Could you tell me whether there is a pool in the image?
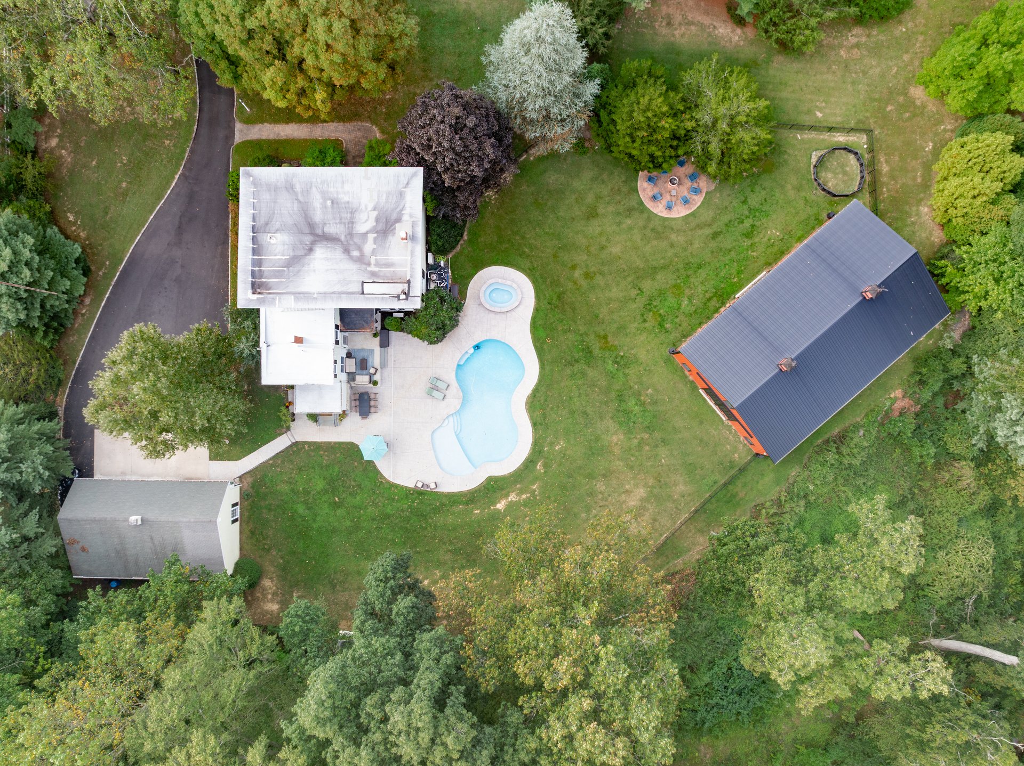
Yes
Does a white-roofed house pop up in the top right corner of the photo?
No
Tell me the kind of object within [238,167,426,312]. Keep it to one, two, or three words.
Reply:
house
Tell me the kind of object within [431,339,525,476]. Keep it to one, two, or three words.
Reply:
swimming pool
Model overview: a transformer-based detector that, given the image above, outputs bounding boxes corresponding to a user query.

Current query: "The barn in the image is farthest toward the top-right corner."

[670,197,953,464]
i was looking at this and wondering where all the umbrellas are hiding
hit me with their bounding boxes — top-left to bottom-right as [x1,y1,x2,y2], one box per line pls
[361,434,389,462]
